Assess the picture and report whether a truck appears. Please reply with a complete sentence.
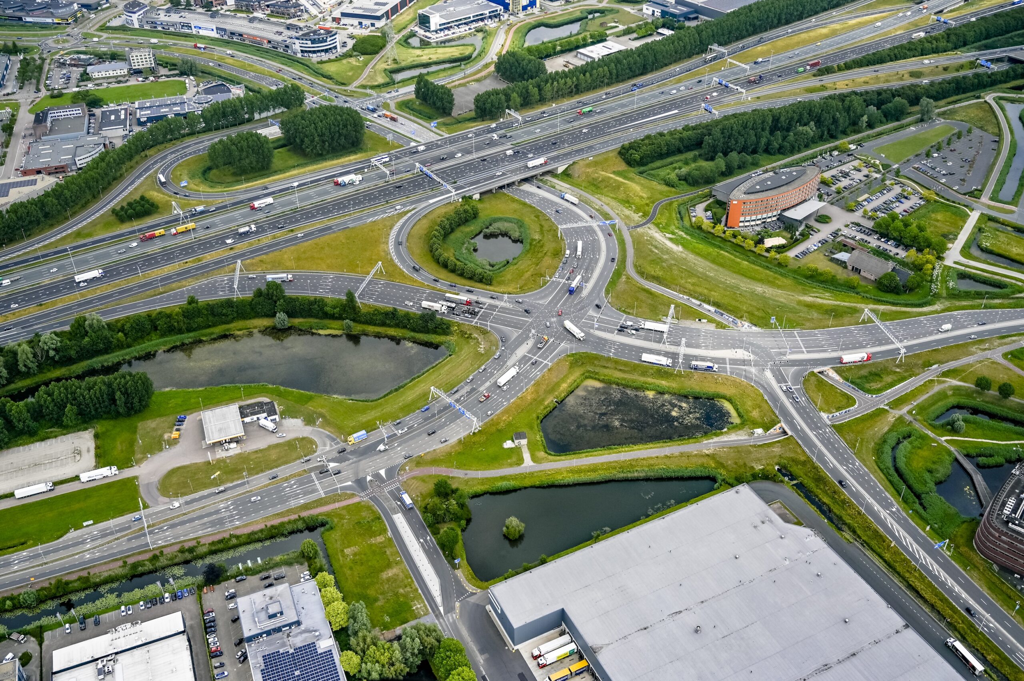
Yes, there's a truck here.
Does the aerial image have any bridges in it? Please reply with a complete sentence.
Yes, a bridge appears in the view.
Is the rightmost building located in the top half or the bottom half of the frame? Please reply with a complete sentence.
The bottom half of the photo is where the rightmost building is.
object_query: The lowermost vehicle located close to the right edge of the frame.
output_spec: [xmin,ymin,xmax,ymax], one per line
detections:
[943,633,989,677]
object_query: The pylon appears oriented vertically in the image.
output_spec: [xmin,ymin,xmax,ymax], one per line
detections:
[382,9,401,65]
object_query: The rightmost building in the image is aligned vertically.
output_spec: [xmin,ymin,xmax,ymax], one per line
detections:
[973,461,1024,582]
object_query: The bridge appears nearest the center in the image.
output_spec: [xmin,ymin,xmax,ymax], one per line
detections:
[392,125,575,200]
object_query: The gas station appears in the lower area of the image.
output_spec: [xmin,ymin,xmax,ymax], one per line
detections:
[201,403,245,447]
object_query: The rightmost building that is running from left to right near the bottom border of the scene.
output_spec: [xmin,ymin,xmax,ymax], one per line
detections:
[489,482,968,681]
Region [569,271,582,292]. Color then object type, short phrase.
white vehicle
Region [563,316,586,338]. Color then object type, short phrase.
white truck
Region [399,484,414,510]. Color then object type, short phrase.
white vehicle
